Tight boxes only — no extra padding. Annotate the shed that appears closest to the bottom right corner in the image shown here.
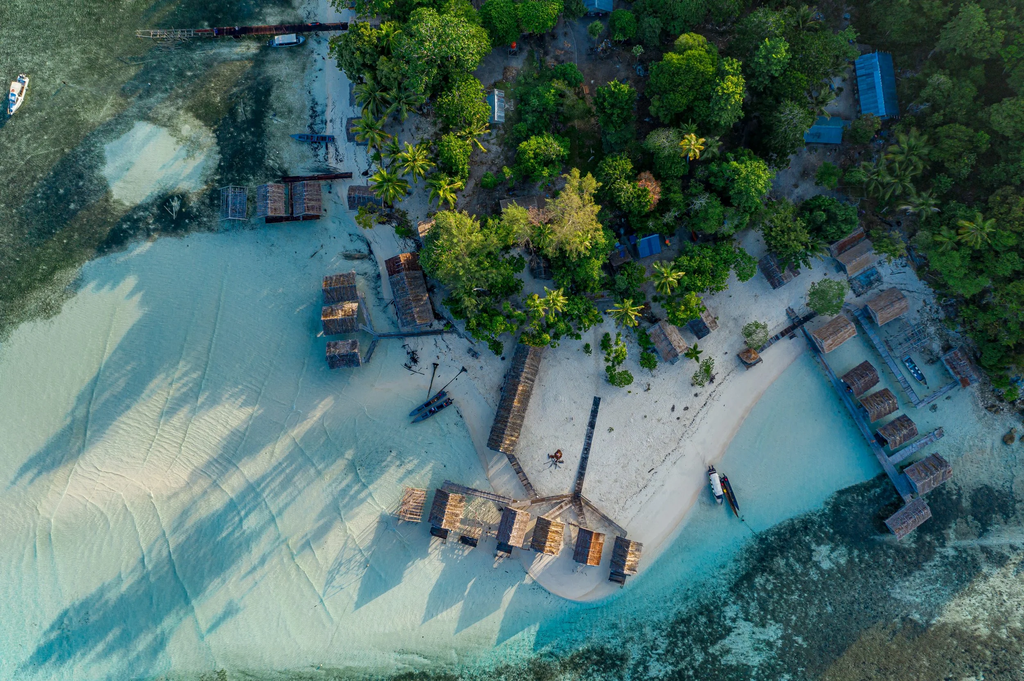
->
[873,494,930,538]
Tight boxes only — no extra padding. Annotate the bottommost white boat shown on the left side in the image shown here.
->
[7,72,32,115]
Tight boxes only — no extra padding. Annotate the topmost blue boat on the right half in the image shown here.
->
[901,353,927,385]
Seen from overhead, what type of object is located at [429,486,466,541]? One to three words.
shed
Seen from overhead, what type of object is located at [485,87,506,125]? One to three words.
building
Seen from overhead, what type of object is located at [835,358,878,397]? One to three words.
shed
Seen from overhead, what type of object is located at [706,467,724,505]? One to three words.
boat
